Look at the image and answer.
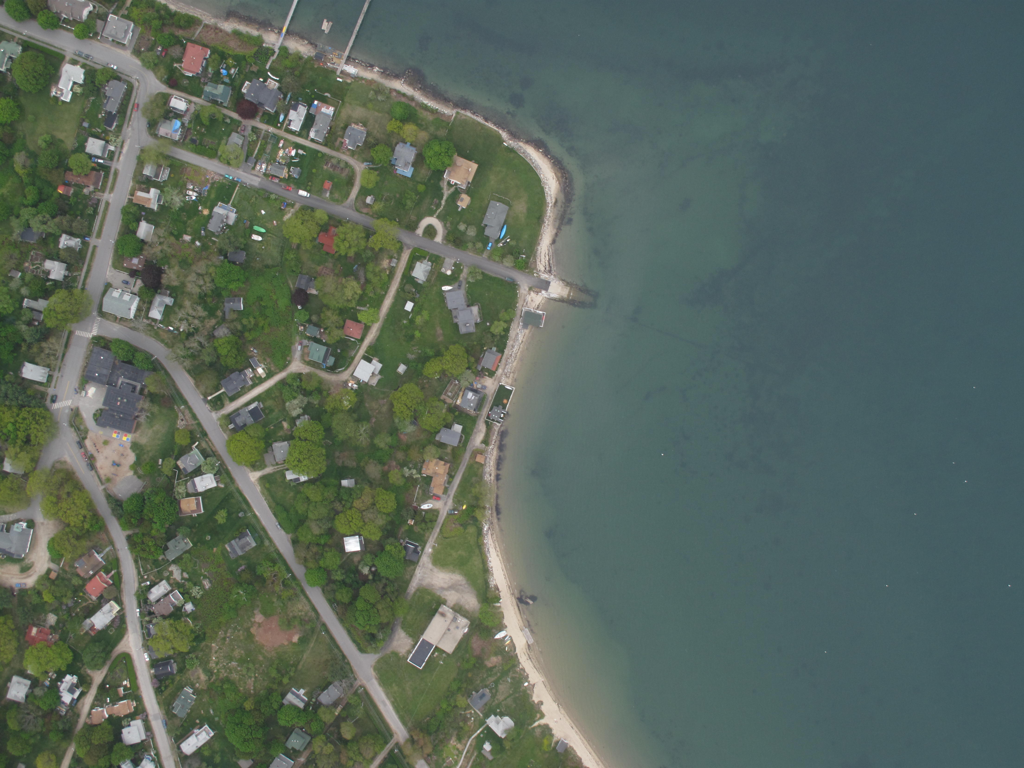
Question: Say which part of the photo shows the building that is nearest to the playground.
left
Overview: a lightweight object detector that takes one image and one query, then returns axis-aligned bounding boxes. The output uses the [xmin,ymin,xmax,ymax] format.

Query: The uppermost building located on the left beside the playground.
[85,348,156,433]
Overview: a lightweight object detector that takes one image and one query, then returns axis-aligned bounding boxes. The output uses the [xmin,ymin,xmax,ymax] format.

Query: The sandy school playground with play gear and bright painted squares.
[84,430,135,482]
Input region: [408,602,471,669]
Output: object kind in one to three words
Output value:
building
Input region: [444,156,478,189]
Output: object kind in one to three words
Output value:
house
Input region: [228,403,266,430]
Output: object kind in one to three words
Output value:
house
